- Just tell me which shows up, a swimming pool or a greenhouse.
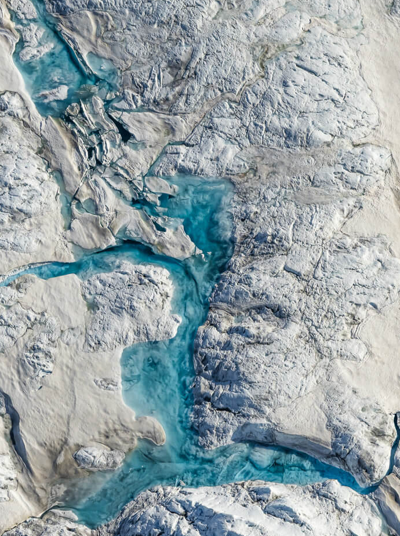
swimming pool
